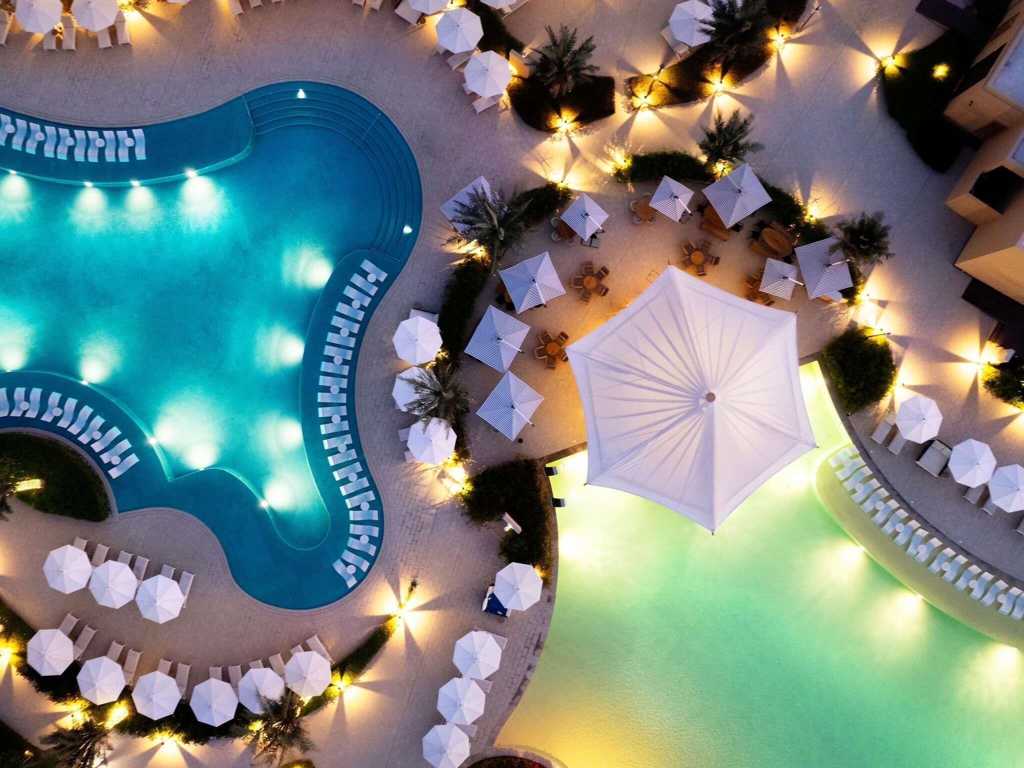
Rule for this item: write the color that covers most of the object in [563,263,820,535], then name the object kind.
white tent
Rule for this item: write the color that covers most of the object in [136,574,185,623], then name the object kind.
white umbrella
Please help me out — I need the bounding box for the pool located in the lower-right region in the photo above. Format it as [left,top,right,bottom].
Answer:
[494,362,1024,768]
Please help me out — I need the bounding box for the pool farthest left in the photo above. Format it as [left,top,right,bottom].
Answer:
[0,81,422,610]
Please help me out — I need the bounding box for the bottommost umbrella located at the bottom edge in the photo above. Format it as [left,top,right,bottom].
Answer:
[422,724,469,768]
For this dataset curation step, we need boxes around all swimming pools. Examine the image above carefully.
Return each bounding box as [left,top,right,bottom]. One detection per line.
[494,362,1024,768]
[0,81,422,610]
